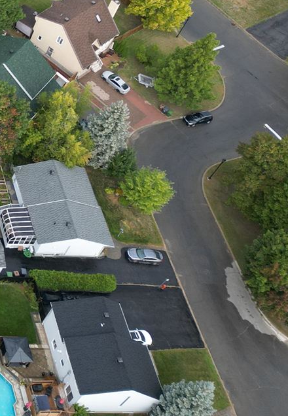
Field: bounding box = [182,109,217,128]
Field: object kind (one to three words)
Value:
car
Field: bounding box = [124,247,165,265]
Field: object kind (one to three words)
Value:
car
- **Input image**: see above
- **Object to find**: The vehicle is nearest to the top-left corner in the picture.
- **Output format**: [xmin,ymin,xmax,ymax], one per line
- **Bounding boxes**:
[100,72,132,95]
